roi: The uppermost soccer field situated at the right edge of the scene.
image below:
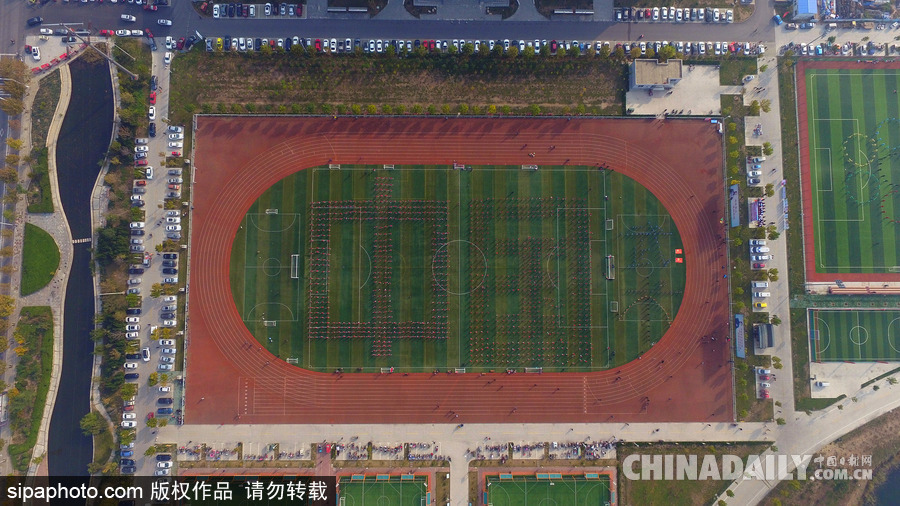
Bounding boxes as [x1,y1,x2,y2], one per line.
[798,58,900,281]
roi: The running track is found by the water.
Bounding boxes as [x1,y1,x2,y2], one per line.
[185,116,733,424]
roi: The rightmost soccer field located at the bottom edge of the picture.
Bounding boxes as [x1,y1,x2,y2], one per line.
[483,473,621,506]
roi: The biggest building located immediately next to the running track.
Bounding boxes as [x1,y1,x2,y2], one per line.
[630,59,683,97]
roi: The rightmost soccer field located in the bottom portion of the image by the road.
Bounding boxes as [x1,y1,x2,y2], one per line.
[809,307,900,362]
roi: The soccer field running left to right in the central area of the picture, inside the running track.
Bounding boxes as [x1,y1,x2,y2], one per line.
[229,164,686,372]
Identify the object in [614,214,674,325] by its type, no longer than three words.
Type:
soccer field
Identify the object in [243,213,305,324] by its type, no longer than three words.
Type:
soccer field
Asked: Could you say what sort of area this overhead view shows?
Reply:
sports ground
